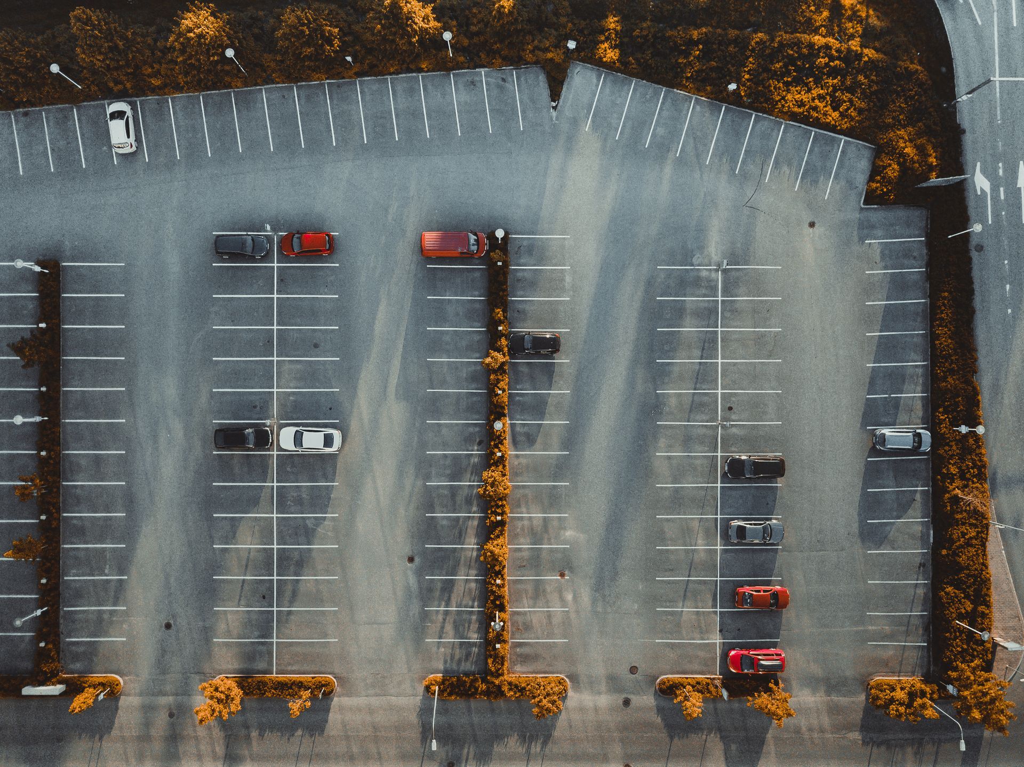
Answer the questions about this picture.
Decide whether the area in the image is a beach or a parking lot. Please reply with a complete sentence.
The area seen from above is a parking lot.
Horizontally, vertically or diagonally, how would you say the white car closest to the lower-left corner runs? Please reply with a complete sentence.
The white car closest to the lower-left corner is oriented horizontally.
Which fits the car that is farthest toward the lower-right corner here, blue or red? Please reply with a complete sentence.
From above, the car that is farthest toward the lower-right corner appears red.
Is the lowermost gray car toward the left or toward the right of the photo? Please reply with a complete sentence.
It is on the right.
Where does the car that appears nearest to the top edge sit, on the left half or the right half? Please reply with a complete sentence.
You can find the car that appears nearest to the top edge on the left side of the picture.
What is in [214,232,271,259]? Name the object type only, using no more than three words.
car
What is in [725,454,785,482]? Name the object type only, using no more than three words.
car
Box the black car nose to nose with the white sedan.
[214,425,273,452]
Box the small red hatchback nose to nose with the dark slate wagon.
[282,229,335,257]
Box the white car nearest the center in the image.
[280,426,342,454]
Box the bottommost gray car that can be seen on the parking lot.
[728,520,784,546]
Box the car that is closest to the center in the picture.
[509,330,561,357]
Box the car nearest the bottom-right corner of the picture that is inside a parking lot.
[734,585,789,612]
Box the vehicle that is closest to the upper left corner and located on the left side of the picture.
[106,103,140,156]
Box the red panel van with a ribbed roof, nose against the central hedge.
[420,230,485,259]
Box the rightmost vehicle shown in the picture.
[871,427,930,455]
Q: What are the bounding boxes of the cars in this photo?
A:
[728,520,784,546]
[280,426,342,454]
[214,425,273,452]
[509,330,561,357]
[282,229,335,257]
[214,232,271,259]
[871,427,930,455]
[106,103,140,156]
[725,454,785,482]
[734,585,789,612]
